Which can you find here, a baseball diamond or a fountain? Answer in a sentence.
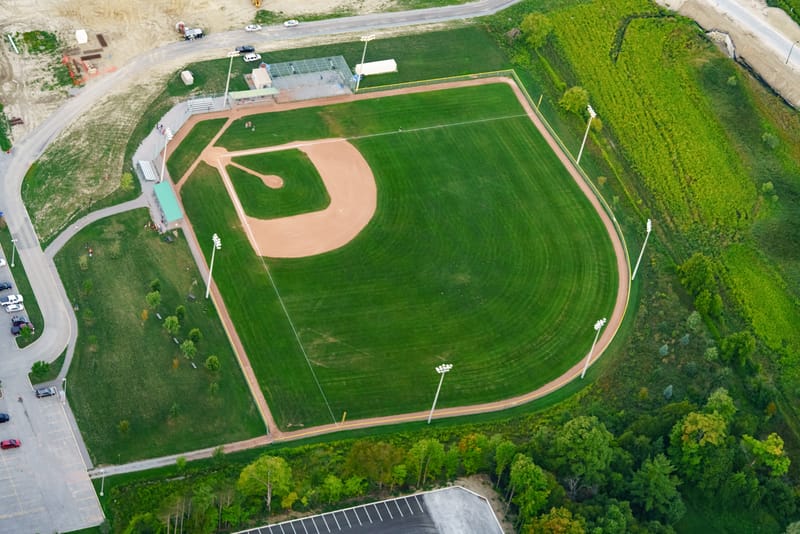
The image shows a baseball diamond.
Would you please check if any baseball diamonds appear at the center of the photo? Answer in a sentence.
Yes, there is a baseball diamond at the center of the photo.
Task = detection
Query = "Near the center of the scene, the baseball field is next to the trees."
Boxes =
[159,76,628,444]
